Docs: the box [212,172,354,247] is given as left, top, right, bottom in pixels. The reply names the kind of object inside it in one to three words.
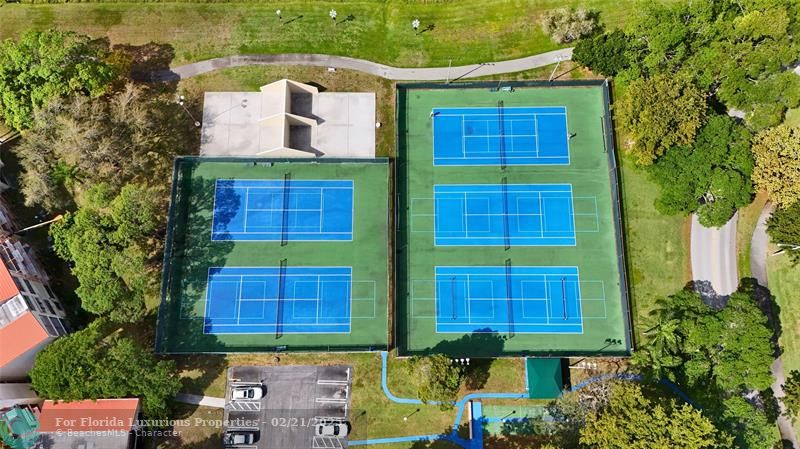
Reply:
tennis court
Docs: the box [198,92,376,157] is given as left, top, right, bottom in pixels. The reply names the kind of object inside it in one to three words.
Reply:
sports court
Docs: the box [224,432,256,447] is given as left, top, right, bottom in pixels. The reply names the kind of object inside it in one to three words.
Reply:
car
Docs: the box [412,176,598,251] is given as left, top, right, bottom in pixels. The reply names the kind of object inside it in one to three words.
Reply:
tennis court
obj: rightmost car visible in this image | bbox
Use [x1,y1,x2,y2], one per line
[316,422,348,438]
